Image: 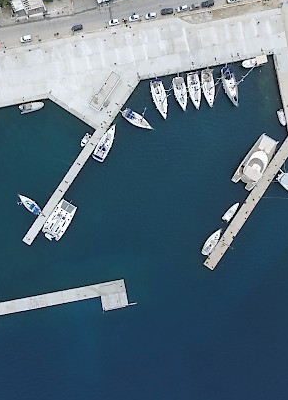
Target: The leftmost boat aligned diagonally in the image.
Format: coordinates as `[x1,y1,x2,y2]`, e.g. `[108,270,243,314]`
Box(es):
[18,195,44,215]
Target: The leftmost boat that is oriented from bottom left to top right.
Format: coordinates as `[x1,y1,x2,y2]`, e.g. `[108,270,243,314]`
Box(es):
[43,200,75,240]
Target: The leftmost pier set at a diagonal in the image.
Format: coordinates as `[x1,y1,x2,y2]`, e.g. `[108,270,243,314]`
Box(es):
[22,127,108,245]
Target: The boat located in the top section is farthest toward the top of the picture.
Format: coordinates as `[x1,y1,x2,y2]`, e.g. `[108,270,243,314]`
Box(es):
[242,55,270,67]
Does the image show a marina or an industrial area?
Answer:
marina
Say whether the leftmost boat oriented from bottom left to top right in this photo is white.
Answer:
Yes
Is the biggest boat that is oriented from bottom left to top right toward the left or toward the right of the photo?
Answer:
right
